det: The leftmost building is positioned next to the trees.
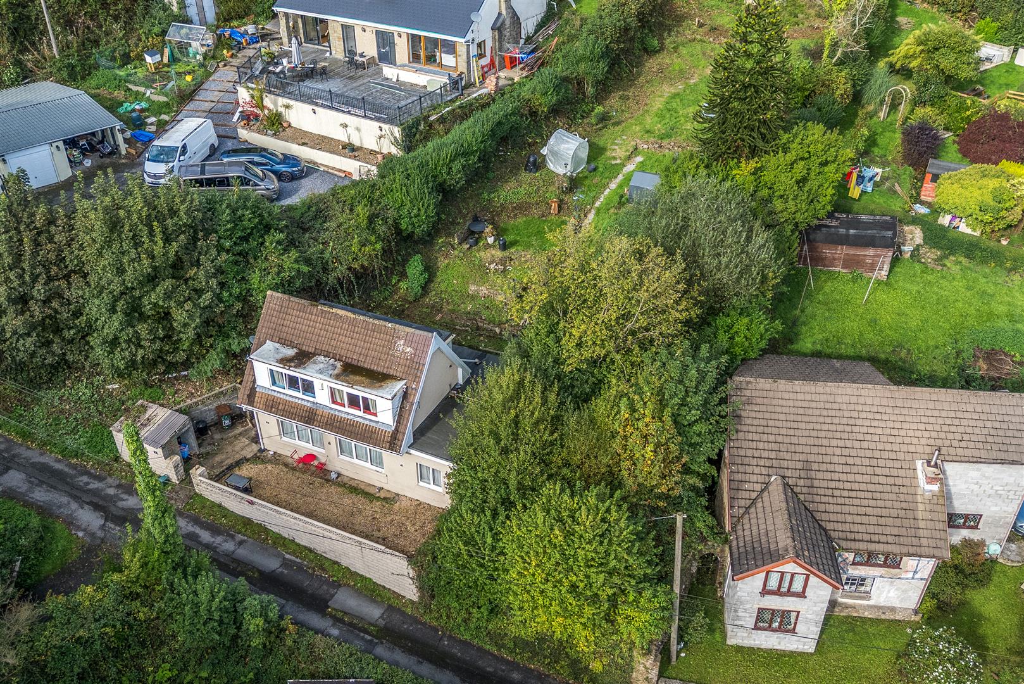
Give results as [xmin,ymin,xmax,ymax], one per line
[0,81,125,194]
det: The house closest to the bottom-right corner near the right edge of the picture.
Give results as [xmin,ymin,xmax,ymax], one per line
[710,354,1024,652]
